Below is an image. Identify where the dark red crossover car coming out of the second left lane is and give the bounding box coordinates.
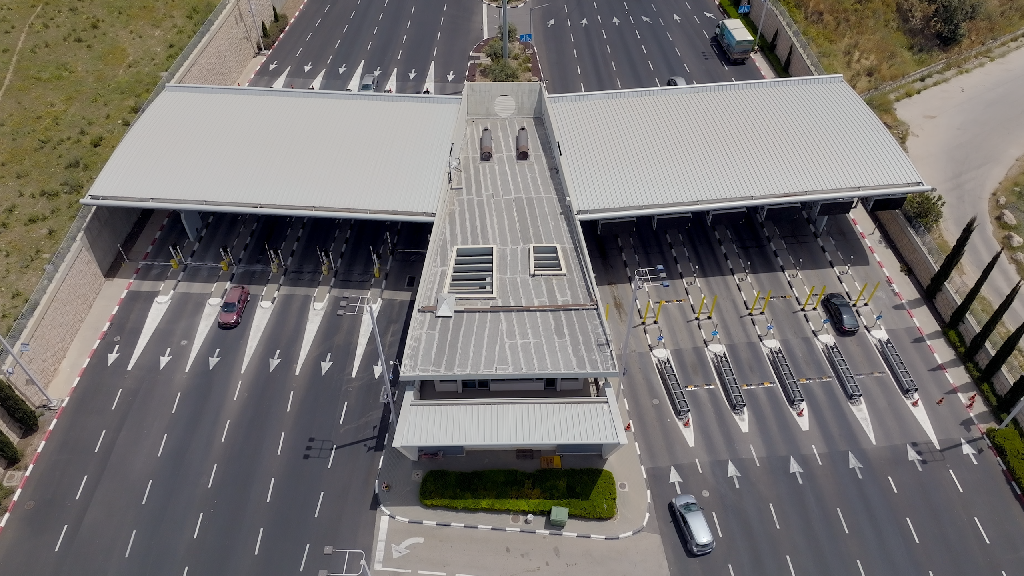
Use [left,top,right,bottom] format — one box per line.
[221,283,254,329]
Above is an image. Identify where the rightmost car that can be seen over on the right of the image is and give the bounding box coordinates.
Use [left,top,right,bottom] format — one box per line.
[824,295,864,338]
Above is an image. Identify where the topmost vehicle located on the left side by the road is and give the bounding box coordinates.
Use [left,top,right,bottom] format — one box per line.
[359,74,377,91]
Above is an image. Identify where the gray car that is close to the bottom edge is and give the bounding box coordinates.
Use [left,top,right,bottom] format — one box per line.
[675,493,716,557]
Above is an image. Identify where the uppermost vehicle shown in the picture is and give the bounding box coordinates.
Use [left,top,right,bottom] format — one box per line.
[715,17,755,62]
